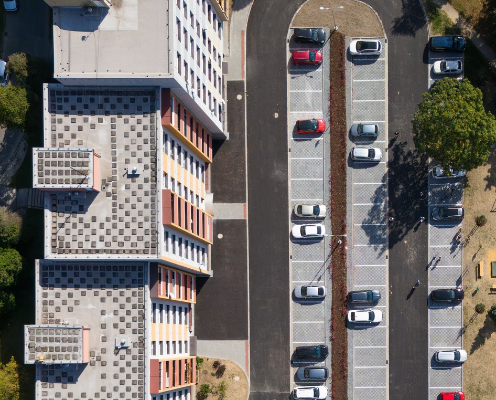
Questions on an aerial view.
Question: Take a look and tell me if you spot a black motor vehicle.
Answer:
Yes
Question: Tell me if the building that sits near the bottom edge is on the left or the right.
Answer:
left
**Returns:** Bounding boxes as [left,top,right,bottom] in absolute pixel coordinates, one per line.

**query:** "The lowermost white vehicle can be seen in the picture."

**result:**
[293,384,329,400]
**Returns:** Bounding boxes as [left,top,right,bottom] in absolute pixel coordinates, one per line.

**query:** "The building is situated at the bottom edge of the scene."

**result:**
[24,261,201,400]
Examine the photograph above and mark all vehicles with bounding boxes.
[433,346,469,365]
[293,384,329,400]
[290,47,323,67]
[431,204,466,222]
[290,223,326,240]
[349,37,383,57]
[347,288,382,306]
[432,57,463,76]
[350,121,380,139]
[350,145,383,163]
[0,58,9,83]
[430,286,465,303]
[293,25,327,45]
[294,202,328,219]
[294,343,330,361]
[297,364,329,382]
[438,390,466,400]
[347,308,384,325]
[2,0,20,13]
[295,117,326,134]
[293,282,328,300]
